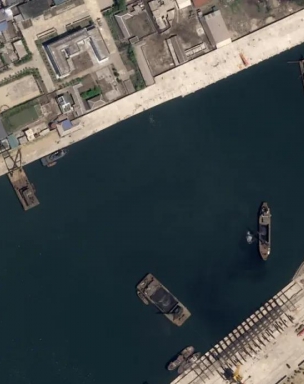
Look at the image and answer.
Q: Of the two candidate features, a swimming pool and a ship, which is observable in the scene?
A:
ship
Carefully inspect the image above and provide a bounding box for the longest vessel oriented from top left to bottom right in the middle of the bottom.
[138,274,189,326]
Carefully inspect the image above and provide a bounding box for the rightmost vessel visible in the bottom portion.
[258,202,270,261]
